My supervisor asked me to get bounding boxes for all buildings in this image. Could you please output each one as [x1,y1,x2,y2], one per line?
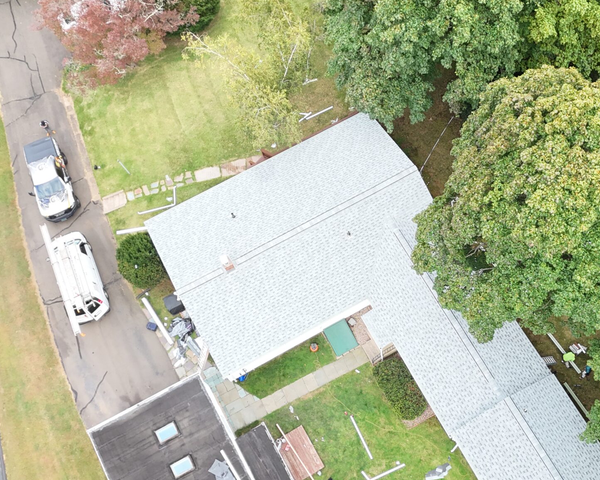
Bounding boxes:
[144,110,600,480]
[85,373,252,480]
